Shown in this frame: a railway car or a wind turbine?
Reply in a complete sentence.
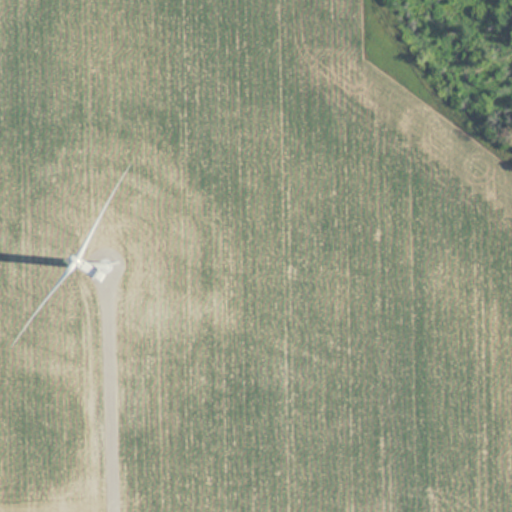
I can see a wind turbine in this picture.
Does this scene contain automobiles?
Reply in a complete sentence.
No, the picture doesn't show any automobile.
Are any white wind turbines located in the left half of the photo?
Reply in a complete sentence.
Yes, I can see a white wind turbine in the left half of the photo.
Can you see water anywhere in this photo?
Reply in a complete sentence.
No, no water is visible.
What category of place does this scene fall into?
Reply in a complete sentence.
This looks like farmland.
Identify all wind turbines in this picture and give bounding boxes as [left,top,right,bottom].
[14,164,133,346]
